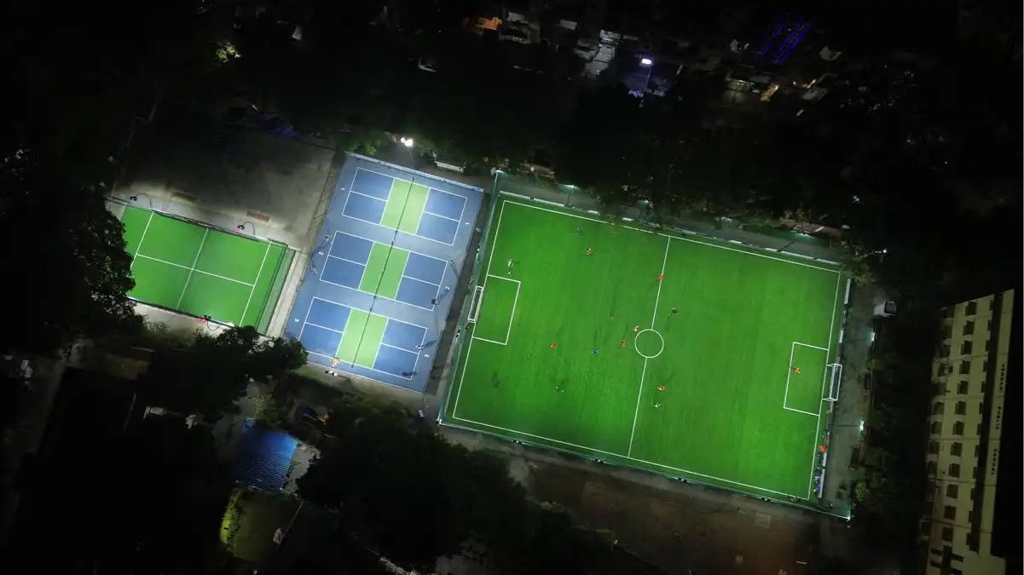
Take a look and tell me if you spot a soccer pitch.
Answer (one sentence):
Yes, I can see a soccer pitch in this picture.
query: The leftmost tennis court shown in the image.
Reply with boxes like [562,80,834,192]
[97,204,297,334]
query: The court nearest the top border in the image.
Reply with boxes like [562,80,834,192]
[341,168,470,245]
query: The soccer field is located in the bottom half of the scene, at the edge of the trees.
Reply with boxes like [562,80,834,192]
[443,193,848,509]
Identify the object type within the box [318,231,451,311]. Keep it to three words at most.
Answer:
sports court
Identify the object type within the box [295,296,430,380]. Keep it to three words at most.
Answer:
sports court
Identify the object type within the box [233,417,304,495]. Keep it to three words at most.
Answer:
shed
